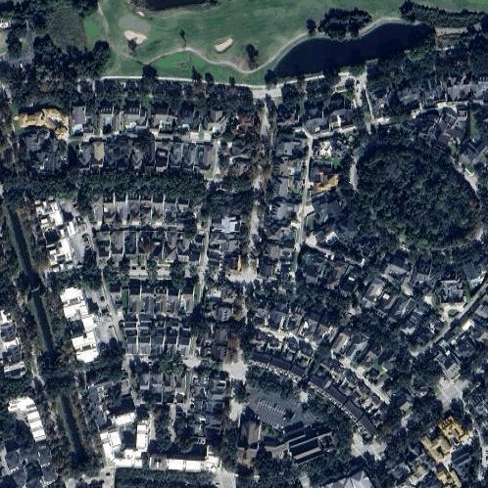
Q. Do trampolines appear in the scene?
No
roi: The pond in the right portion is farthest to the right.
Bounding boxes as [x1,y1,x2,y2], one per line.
[273,23,432,73]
